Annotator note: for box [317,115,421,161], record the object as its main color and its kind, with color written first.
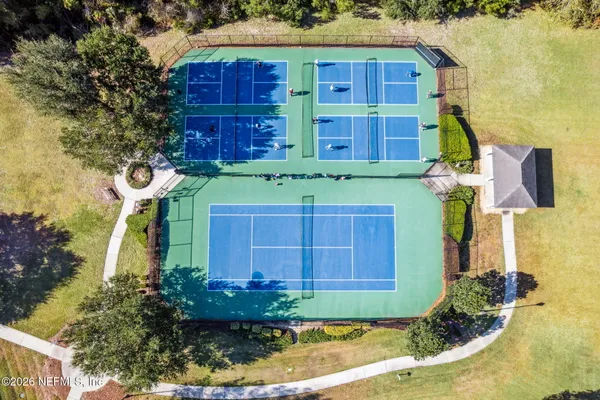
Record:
blue sports court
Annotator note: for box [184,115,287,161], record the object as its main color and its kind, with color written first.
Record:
blue sports court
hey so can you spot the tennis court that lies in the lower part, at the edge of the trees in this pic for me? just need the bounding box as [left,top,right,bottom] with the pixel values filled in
[159,177,443,320]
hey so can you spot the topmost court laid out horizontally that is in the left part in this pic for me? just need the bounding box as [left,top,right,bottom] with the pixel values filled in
[186,61,288,105]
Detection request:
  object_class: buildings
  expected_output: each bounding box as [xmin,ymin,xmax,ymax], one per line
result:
[483,145,538,209]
